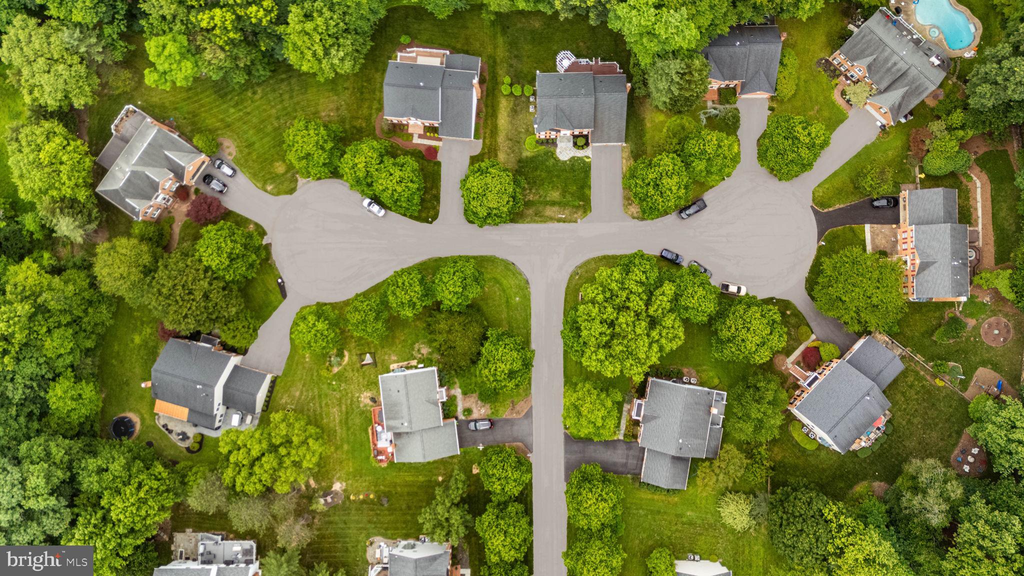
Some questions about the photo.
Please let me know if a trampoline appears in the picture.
Yes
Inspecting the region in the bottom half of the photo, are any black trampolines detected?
Yes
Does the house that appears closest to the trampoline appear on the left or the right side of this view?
left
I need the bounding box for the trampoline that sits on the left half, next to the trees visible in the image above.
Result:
[101,417,134,442]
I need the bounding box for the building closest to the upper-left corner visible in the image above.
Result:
[96,104,210,222]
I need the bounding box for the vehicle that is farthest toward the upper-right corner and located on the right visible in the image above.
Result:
[873,195,899,207]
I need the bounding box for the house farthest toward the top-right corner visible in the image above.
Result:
[830,5,952,128]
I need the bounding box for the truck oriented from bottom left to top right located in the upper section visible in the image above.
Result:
[680,197,708,219]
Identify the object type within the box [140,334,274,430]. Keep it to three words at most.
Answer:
house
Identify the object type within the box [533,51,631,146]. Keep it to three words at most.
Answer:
house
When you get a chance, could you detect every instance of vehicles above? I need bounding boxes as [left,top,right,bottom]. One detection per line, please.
[210,157,235,177]
[720,283,748,295]
[468,420,492,431]
[687,259,712,277]
[361,198,384,217]
[659,248,684,264]
[873,195,899,207]
[201,174,226,193]
[680,197,708,219]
